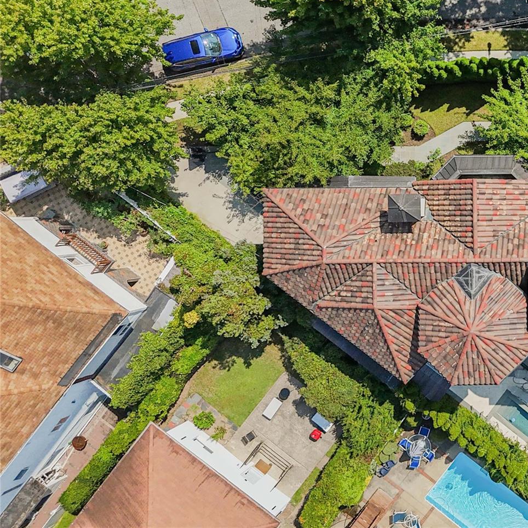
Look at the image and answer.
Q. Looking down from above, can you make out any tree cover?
Yes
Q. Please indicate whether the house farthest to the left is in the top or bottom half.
bottom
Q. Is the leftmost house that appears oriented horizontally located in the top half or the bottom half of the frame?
bottom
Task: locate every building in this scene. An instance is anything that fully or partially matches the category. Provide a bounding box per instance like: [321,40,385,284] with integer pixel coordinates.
[260,154,528,402]
[65,421,306,528]
[0,191,147,528]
